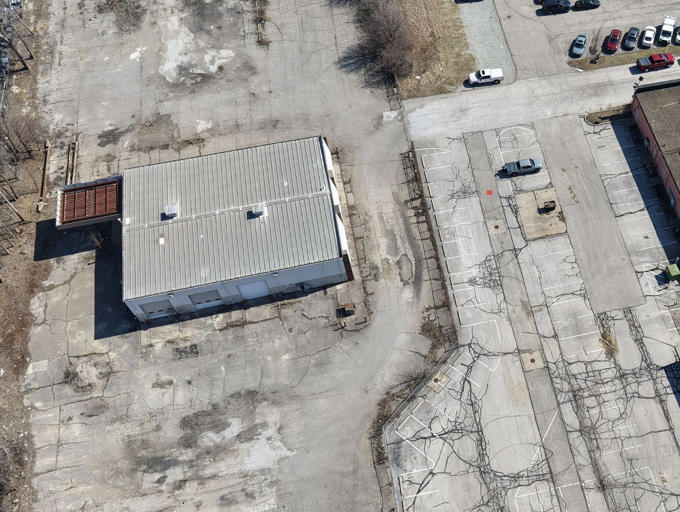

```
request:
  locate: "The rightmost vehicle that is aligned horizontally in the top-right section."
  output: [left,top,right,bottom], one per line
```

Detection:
[638,53,673,70]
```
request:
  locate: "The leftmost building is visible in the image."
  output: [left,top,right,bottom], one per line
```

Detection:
[122,131,355,321]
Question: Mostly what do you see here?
paved ground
